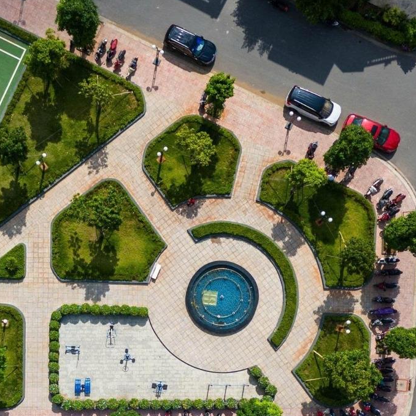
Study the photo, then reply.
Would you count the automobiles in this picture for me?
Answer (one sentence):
The picture shows 3 automobiles.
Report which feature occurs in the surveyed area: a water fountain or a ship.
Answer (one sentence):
This aerial view contains a water fountain.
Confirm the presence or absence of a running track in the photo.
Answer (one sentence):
No, no running track is visible in the scene.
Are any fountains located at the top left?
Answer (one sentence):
No, looking at the top left, there is no fountain.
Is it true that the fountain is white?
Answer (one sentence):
No, the fountain is actually blue.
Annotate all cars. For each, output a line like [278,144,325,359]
[341,110,401,154]
[283,83,341,128]
[160,23,218,68]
